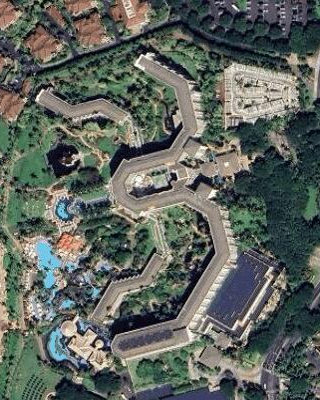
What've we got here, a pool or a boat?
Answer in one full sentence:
Looking from above, you can make out a pool.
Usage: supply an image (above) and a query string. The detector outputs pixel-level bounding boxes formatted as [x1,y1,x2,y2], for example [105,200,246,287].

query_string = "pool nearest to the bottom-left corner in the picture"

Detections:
[49,328,68,362]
